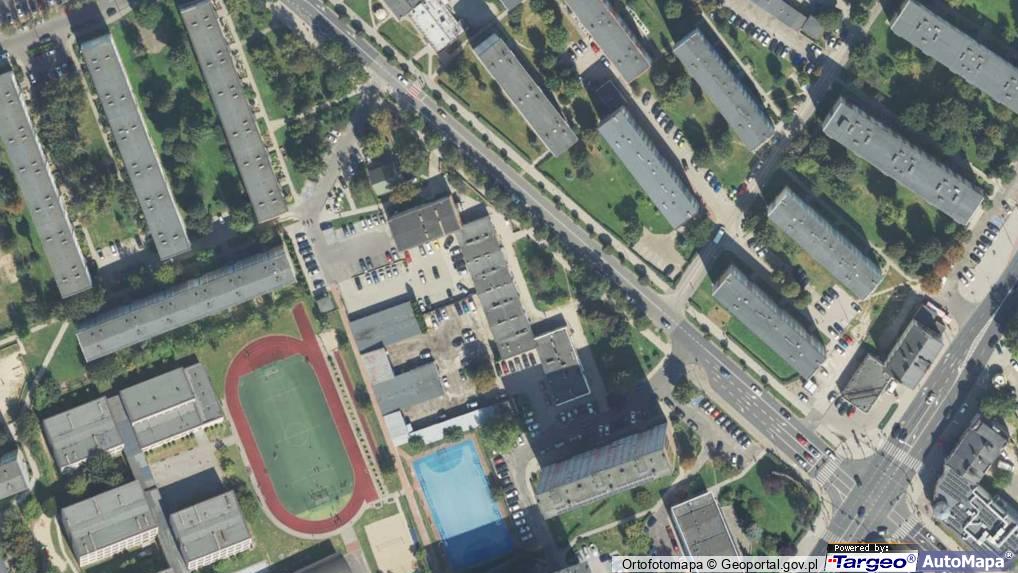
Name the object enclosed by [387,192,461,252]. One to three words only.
building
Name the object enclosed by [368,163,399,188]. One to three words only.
shed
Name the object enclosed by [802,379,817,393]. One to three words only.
vehicle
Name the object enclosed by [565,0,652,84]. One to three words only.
building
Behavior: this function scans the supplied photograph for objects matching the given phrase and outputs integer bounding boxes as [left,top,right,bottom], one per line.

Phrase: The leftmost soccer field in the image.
[236,356,356,516]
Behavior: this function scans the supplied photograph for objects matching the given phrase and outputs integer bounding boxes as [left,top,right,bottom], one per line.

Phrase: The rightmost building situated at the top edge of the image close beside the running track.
[181,0,290,224]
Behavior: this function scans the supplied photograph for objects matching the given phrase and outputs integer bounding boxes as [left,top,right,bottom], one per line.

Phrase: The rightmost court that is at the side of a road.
[414,440,513,571]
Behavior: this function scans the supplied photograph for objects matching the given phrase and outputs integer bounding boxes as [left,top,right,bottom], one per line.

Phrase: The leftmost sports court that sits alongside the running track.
[365,513,419,573]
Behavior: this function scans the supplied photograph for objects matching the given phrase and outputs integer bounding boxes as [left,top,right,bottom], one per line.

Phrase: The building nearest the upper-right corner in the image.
[891,0,1018,112]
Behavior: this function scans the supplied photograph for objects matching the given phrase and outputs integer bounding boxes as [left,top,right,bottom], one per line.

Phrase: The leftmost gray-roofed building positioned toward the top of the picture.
[0,66,95,299]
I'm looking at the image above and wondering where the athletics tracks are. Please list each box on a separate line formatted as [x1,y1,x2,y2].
[225,301,378,529]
